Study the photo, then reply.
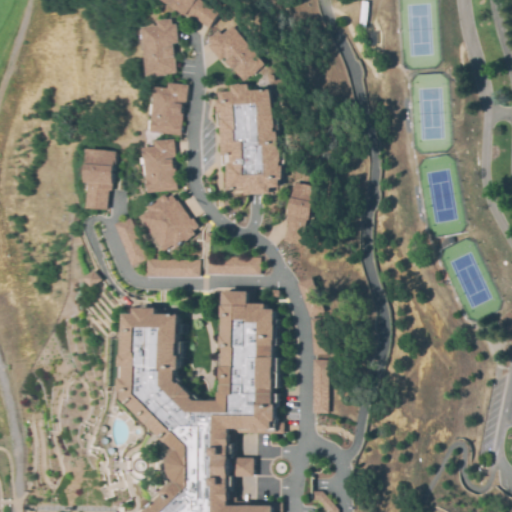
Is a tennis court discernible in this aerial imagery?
Yes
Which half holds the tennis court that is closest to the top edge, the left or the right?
right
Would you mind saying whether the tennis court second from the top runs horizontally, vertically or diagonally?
vertically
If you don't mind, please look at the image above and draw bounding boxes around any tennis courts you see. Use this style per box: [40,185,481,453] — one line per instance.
[422,154,466,236]
[402,0,442,68]
[412,72,454,154]
[442,238,502,320]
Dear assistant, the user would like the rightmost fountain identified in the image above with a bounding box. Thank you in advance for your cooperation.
[272,458,291,477]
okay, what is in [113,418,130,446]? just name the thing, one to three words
swimming pool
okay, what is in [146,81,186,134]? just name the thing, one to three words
house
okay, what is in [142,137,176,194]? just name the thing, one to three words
house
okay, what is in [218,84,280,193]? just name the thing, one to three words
building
